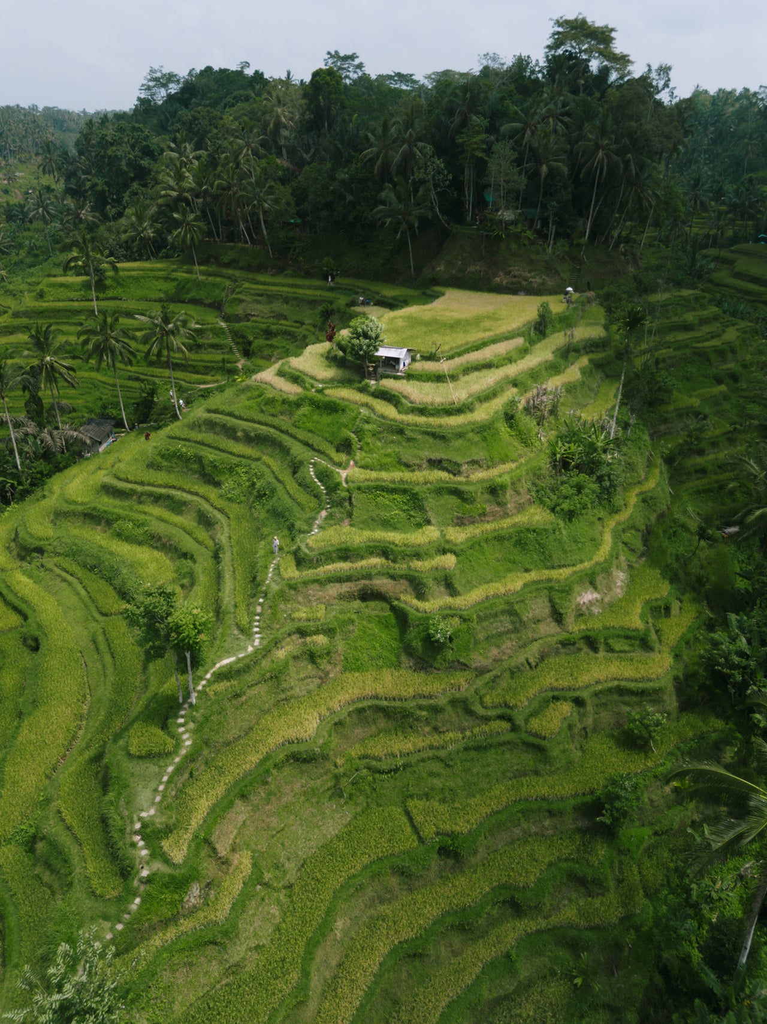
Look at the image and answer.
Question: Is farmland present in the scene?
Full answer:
Yes, some farmland is visible.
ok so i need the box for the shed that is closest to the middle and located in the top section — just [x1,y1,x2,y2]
[371,350,415,385]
